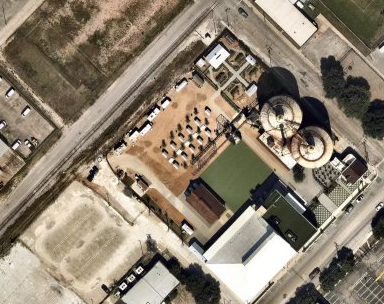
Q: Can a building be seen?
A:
Yes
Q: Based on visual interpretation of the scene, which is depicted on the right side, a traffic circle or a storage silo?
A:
storage silo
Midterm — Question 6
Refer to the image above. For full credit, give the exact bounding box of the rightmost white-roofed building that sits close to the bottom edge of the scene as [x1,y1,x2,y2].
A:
[204,206,298,304]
